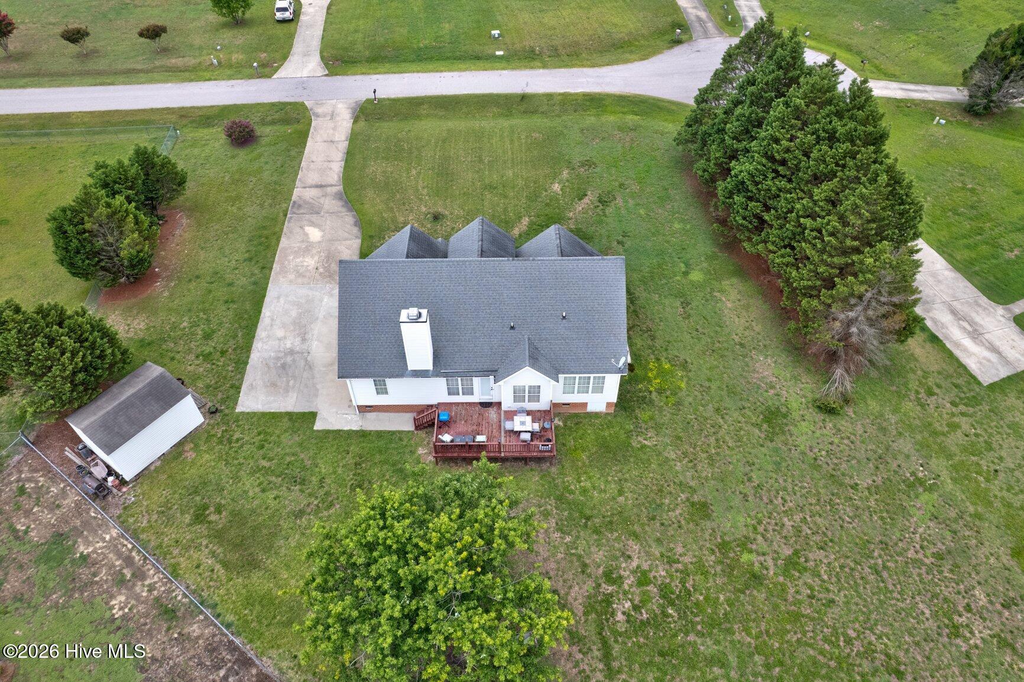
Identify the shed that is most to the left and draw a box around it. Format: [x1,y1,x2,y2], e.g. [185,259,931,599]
[65,362,204,480]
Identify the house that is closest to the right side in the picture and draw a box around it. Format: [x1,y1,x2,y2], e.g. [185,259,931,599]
[337,216,629,419]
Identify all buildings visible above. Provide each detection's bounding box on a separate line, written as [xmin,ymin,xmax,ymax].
[337,216,629,419]
[65,362,204,480]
